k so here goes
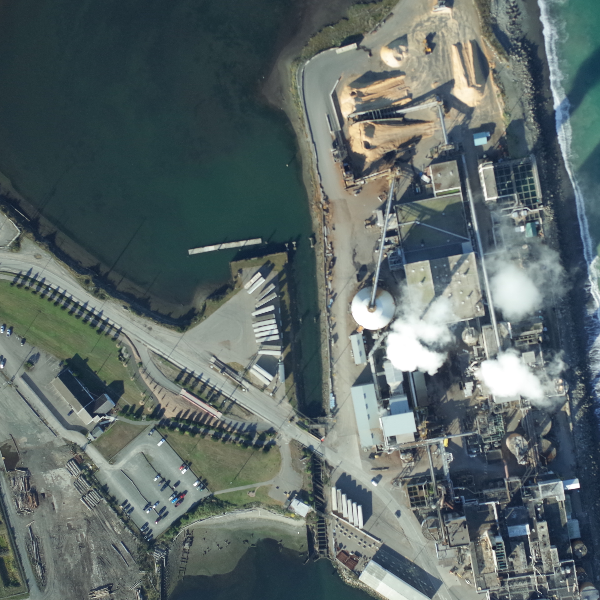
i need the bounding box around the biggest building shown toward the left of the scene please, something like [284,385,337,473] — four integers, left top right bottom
[51,369,95,415]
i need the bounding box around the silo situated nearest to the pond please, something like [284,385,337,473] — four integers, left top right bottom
[351,286,395,330]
